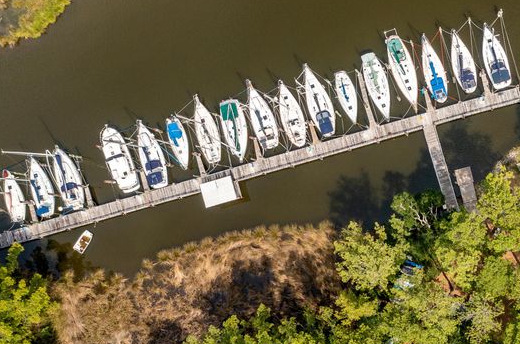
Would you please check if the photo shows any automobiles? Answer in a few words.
No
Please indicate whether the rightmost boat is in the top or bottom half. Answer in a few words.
top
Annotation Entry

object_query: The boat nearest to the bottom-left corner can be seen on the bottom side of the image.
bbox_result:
[72,228,94,255]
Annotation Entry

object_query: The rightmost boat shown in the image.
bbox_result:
[468,13,519,96]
